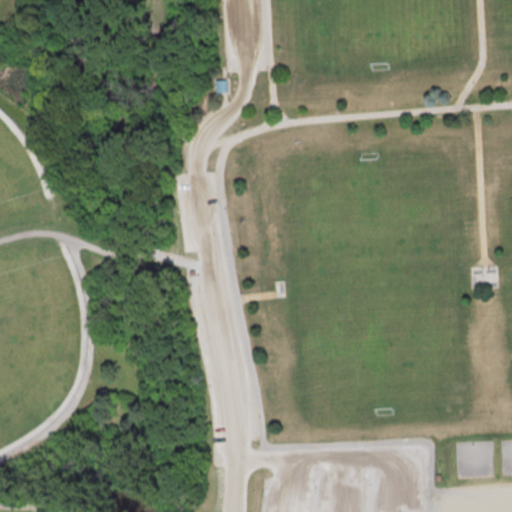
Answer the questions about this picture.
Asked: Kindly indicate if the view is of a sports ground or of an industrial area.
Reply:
sports ground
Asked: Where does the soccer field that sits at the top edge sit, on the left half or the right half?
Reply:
right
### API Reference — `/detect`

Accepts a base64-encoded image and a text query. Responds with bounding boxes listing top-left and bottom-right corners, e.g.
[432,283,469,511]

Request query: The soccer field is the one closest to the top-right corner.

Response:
[270,0,474,86]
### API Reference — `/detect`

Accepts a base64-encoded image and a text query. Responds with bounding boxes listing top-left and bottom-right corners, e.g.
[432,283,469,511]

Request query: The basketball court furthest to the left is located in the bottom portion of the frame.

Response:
[456,442,494,479]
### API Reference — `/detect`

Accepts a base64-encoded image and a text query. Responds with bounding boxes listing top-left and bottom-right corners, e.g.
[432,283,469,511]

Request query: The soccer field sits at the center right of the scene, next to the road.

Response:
[282,151,474,428]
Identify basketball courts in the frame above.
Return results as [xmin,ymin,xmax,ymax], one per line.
[456,442,494,479]
[502,441,512,476]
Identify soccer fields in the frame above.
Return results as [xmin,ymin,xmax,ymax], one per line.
[270,0,474,86]
[282,151,474,428]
